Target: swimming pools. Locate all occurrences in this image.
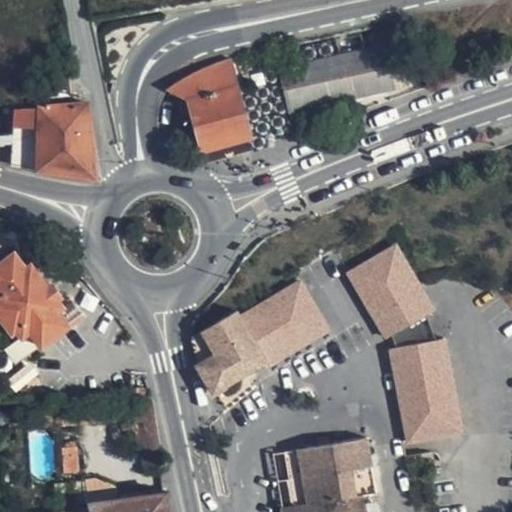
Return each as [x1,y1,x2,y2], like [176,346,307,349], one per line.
[28,429,56,482]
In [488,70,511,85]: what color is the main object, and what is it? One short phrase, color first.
white car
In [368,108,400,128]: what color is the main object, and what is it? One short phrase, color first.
white vehicle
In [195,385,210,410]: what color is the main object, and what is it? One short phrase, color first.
white vehicle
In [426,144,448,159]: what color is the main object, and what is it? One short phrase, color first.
white car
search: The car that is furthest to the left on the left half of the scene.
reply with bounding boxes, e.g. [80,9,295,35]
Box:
[38,358,61,370]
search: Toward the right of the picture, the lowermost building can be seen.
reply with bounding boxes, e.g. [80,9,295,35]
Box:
[272,438,381,512]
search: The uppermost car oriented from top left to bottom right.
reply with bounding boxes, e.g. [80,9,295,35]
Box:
[321,256,341,280]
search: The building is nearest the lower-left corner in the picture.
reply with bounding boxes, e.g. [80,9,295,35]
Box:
[62,442,80,474]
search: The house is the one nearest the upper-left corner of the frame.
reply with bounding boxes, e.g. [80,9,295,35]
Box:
[12,102,98,182]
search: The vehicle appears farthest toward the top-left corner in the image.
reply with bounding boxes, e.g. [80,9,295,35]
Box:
[160,103,172,126]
